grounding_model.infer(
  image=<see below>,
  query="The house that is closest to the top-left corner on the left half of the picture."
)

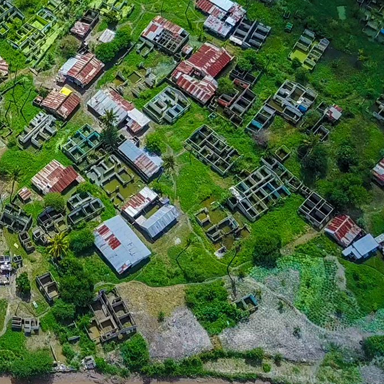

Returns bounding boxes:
[0,1,25,37]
